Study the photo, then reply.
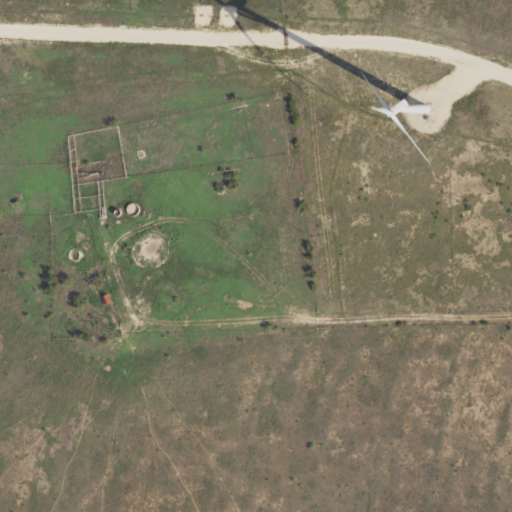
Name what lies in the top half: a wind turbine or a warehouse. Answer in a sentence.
Looking in the top half, you will find a wind turbine.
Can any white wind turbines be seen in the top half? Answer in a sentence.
Yes, a white wind turbine appears in the top half.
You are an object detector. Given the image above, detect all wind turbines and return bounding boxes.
[360,73,432,165]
